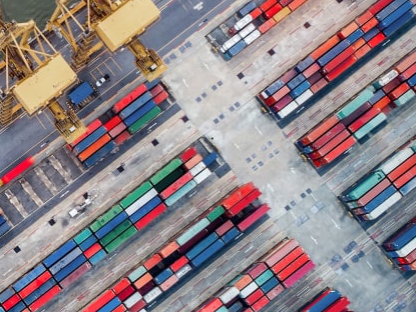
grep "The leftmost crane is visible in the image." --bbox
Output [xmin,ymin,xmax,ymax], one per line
[0,0,91,145]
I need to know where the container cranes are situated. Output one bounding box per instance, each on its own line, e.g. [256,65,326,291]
[0,0,91,145]
[46,0,172,84]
